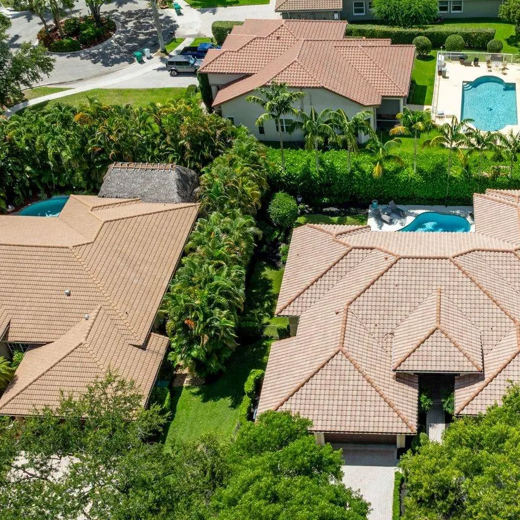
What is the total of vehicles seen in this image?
2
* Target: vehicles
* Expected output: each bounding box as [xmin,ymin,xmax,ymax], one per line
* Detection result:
[173,35,219,57]
[160,52,203,78]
